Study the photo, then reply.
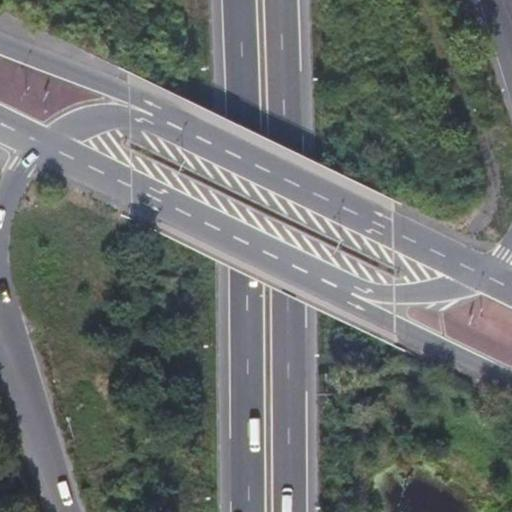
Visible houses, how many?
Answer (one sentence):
The picture shows no houses.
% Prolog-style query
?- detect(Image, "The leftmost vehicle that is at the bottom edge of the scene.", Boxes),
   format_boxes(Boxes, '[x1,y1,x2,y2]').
[58,480,72,506]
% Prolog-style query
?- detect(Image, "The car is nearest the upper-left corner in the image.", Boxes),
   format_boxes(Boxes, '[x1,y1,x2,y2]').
[20,148,40,168]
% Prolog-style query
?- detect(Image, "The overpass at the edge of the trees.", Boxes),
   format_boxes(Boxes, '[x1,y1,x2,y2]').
[116,66,408,352]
